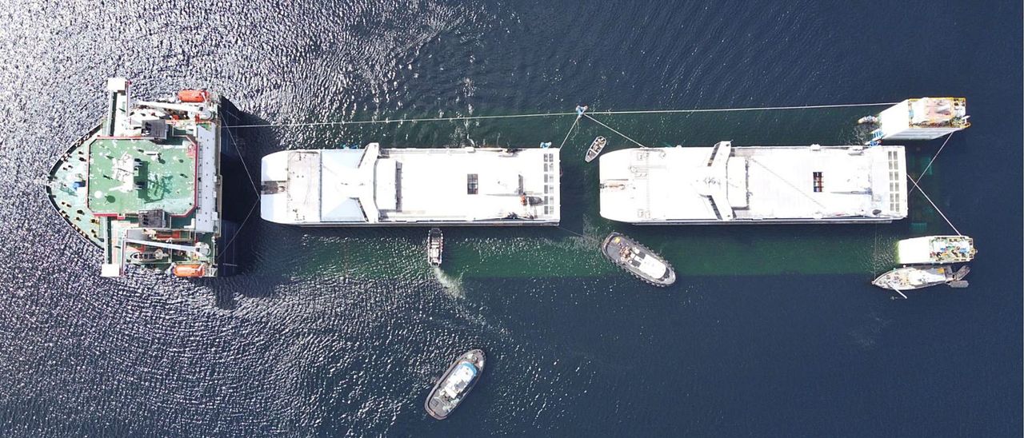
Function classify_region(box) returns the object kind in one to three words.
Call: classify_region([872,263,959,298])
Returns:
boat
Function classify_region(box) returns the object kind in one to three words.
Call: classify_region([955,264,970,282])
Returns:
boat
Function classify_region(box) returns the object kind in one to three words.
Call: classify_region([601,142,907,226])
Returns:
ship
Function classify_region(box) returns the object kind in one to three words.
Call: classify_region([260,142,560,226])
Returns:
ship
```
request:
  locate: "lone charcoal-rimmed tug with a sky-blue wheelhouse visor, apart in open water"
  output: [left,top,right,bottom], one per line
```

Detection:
[425,348,485,420]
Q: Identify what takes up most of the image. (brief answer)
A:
water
